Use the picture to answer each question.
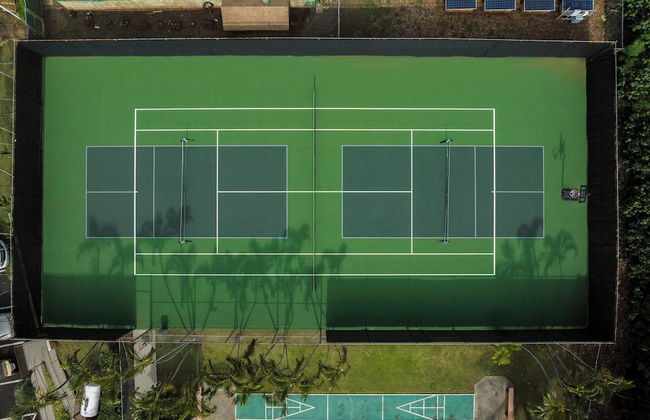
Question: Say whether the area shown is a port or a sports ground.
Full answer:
The area seen from above is a sports ground.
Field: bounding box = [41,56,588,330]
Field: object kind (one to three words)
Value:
tennis court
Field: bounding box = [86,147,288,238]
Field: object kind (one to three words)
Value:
sports court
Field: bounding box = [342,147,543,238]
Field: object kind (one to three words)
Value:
sports court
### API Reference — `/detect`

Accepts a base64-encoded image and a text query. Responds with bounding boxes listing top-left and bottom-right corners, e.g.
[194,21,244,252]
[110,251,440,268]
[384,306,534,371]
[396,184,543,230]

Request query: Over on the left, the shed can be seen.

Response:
[220,0,289,36]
